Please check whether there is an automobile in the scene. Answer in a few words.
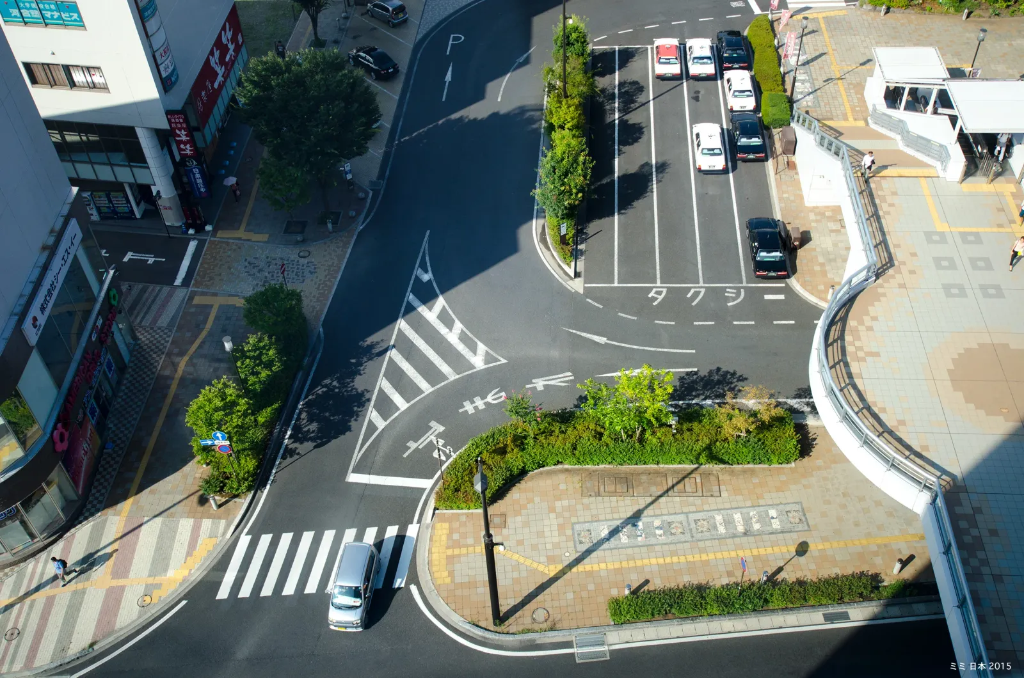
Yes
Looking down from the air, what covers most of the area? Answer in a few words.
paved ground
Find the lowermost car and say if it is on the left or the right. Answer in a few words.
left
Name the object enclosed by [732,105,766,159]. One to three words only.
car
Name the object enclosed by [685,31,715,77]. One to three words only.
car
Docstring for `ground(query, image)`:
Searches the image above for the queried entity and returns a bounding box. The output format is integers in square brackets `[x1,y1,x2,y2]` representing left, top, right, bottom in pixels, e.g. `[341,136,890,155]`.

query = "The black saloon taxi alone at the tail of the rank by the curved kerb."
[746,211,785,276]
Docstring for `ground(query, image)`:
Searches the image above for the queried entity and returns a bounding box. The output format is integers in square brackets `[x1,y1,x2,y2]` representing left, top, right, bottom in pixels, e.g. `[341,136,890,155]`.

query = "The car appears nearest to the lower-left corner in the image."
[330,545,382,629]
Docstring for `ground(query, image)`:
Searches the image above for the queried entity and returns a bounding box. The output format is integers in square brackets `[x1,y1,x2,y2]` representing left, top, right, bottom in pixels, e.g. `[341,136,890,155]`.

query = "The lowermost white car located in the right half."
[691,115,726,171]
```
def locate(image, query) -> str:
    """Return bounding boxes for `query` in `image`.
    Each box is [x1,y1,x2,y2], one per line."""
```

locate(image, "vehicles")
[359,0,405,30]
[725,60,756,109]
[652,31,680,77]
[718,21,748,67]
[685,31,715,77]
[341,42,403,80]
[691,115,726,171]
[746,211,785,276]
[732,105,766,159]
[330,545,382,629]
